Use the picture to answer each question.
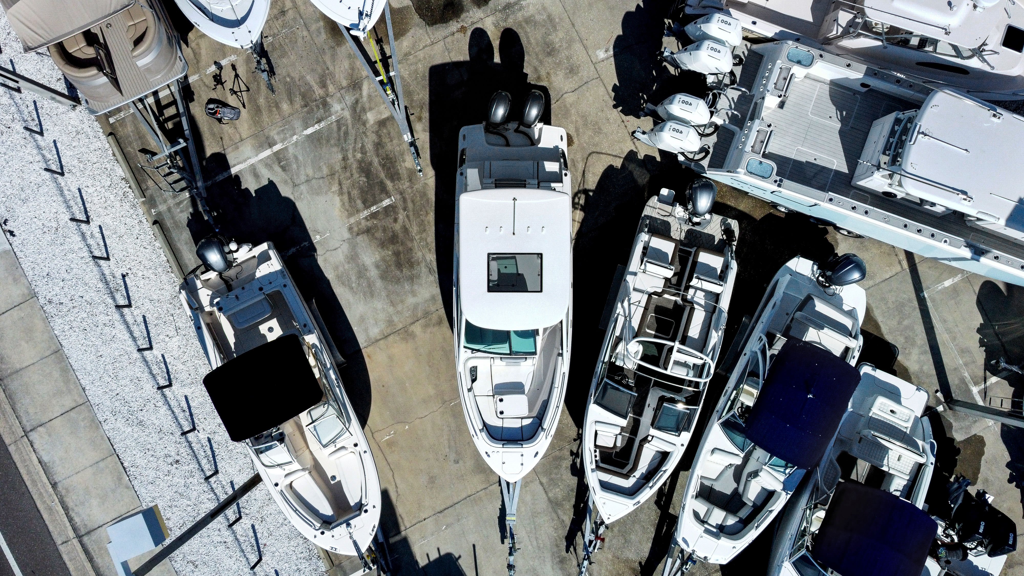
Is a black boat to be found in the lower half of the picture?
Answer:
Yes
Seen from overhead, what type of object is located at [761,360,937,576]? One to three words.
boat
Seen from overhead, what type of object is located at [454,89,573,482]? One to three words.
boat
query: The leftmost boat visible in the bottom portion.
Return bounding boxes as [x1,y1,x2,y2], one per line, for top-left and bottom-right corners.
[180,228,384,572]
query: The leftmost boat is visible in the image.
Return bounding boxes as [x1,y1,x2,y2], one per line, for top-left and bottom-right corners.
[5,0,191,118]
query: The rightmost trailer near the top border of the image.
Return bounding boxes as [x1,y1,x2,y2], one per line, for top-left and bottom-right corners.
[338,0,426,177]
